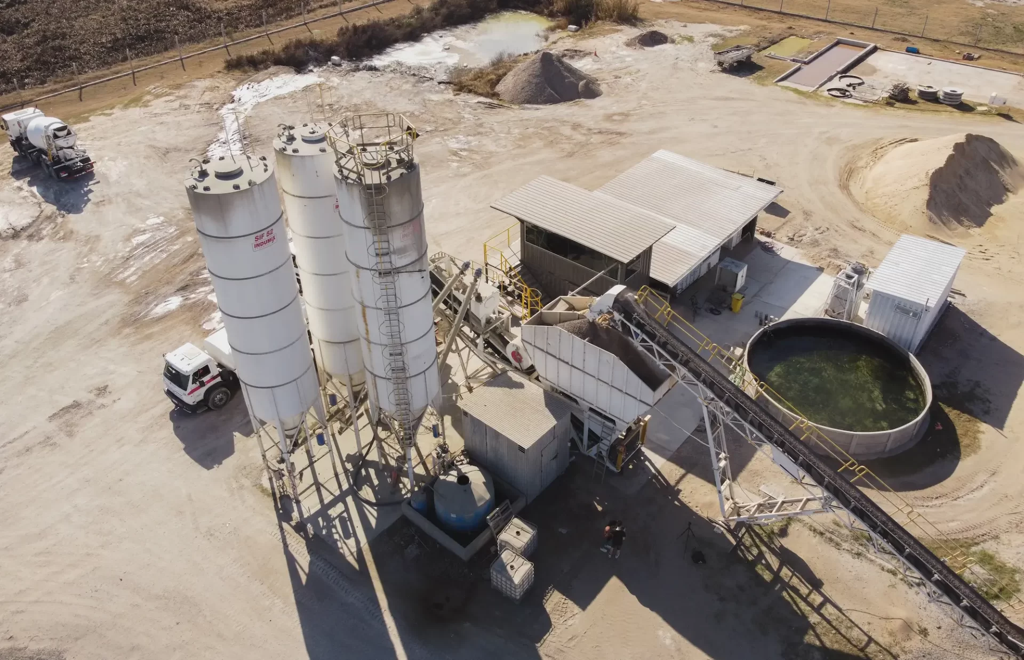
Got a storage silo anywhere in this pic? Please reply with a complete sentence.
Yes, you can see a storage silo in this photo.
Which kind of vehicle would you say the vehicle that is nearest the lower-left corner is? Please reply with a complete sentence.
I'd say the vehicle that is nearest the lower-left corner is a truck.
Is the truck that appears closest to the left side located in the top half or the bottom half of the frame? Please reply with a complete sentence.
The truck that appears closest to the left side is in the top half of the image.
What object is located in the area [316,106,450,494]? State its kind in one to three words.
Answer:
silo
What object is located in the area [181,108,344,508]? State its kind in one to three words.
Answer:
silo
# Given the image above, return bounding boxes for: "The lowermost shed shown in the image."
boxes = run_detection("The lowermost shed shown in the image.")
[459,370,575,495]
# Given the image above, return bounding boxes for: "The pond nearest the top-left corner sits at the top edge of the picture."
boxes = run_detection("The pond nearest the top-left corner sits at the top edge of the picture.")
[445,11,554,71]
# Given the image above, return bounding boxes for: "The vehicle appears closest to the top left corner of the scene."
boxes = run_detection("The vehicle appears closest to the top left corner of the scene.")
[0,104,94,178]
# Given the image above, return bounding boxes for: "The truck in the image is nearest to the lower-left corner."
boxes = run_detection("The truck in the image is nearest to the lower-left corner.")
[160,334,243,417]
